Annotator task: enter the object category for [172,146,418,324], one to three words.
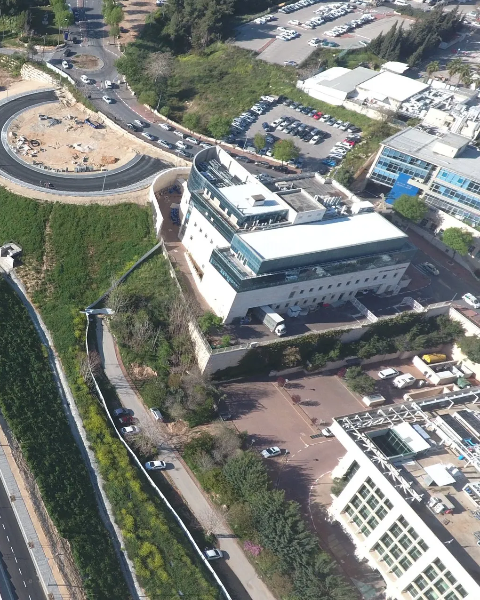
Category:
building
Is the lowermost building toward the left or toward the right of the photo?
right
